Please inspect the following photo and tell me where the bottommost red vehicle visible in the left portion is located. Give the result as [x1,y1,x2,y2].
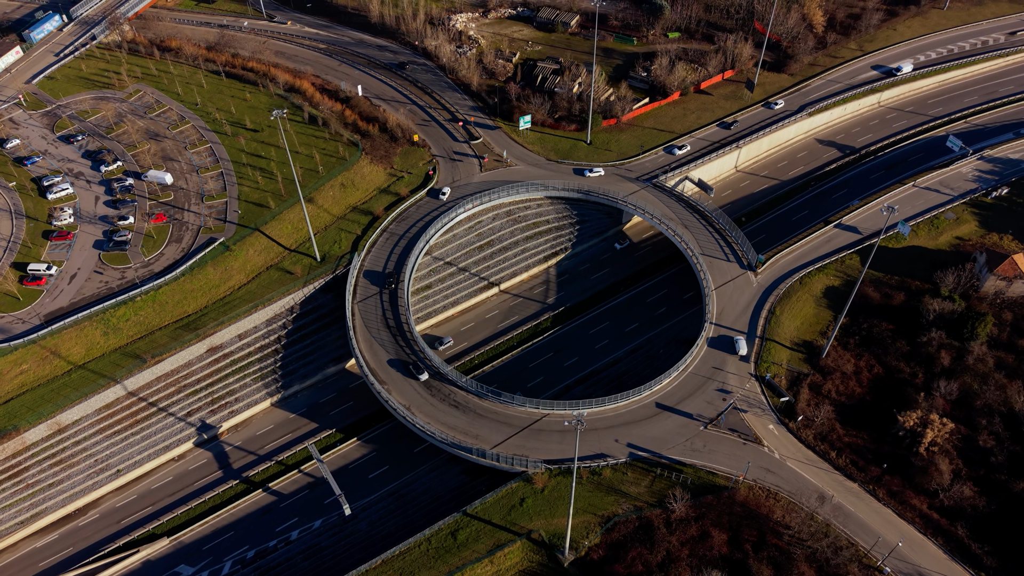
[20,274,47,287]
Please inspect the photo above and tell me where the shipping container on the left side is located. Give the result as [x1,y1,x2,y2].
[22,13,63,44]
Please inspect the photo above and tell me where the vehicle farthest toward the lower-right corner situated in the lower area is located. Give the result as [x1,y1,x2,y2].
[733,336,750,359]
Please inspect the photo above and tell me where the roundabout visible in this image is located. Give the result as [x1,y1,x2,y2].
[346,159,770,473]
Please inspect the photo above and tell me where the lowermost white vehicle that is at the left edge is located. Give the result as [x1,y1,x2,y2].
[23,260,57,276]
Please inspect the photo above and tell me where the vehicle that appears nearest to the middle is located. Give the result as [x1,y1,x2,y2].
[431,334,456,352]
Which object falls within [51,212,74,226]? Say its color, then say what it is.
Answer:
white car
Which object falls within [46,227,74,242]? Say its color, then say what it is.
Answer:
red car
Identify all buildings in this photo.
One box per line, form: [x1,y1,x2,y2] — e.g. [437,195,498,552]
[0,42,23,73]
[979,243,1024,295]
